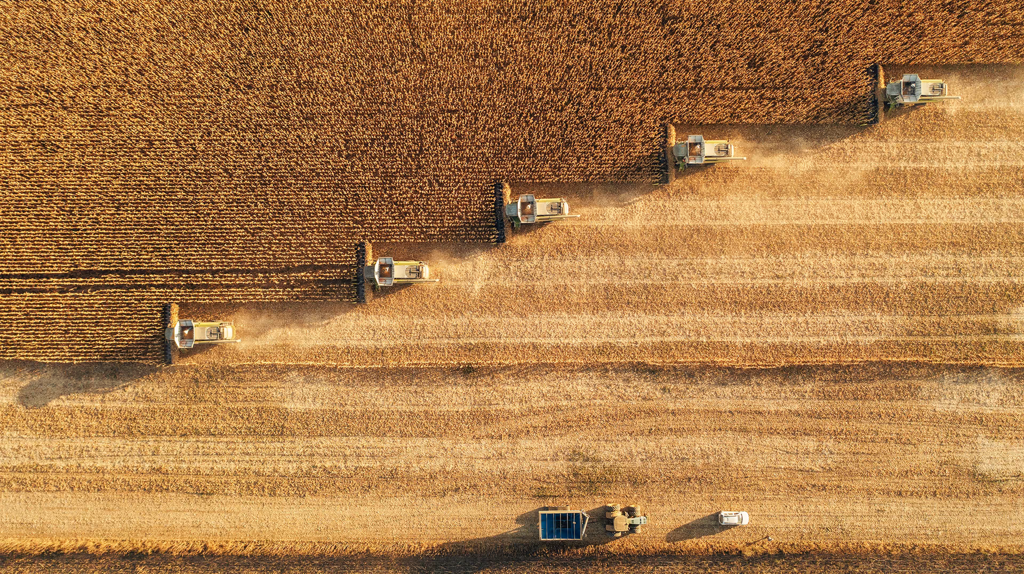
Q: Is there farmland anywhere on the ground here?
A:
Yes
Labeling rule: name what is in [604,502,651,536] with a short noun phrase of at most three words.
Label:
work vehicle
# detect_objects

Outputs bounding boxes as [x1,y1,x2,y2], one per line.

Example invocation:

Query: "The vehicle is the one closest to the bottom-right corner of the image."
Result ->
[718,511,748,526]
